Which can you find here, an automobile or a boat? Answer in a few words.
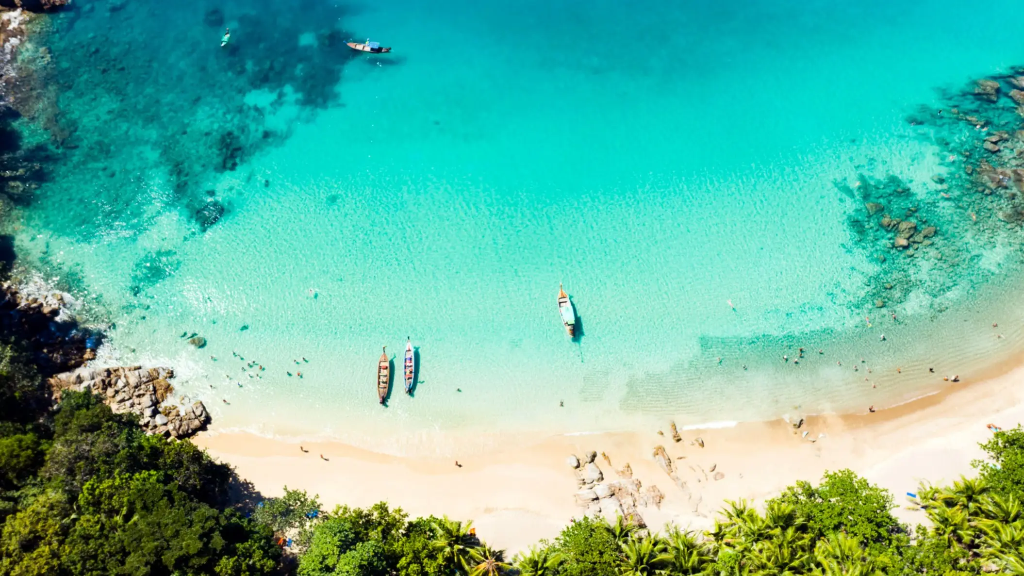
boat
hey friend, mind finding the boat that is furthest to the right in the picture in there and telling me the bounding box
[559,288,576,345]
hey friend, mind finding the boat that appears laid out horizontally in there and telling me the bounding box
[347,40,394,56]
